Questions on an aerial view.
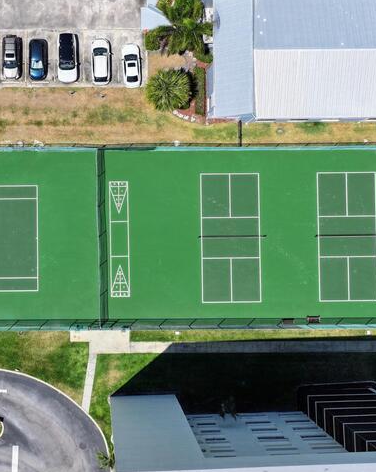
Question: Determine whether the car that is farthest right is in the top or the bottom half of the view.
top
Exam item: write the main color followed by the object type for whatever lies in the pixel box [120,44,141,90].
white car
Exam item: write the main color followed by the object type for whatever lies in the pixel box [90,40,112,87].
white car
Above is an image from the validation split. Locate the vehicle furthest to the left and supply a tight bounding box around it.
[0,36,21,84]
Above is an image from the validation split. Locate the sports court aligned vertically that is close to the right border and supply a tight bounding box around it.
[317,172,376,301]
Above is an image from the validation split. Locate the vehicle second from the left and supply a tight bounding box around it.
[26,39,48,82]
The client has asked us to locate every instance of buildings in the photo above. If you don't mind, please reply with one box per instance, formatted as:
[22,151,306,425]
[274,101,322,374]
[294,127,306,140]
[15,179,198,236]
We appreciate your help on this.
[251,0,376,125]
[111,387,376,472]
